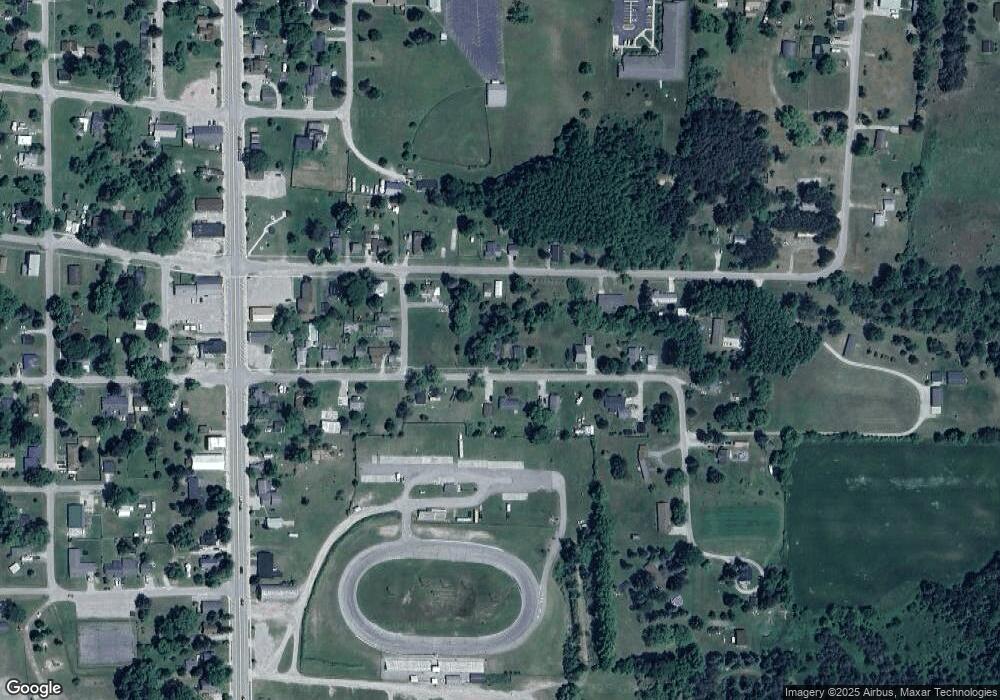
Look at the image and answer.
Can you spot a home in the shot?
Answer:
Yes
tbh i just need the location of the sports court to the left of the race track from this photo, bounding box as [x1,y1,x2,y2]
[79,622,135,666]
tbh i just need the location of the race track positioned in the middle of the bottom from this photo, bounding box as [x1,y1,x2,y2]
[337,537,540,656]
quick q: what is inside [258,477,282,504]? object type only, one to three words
house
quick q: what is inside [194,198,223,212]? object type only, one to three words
building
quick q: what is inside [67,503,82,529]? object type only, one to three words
barn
